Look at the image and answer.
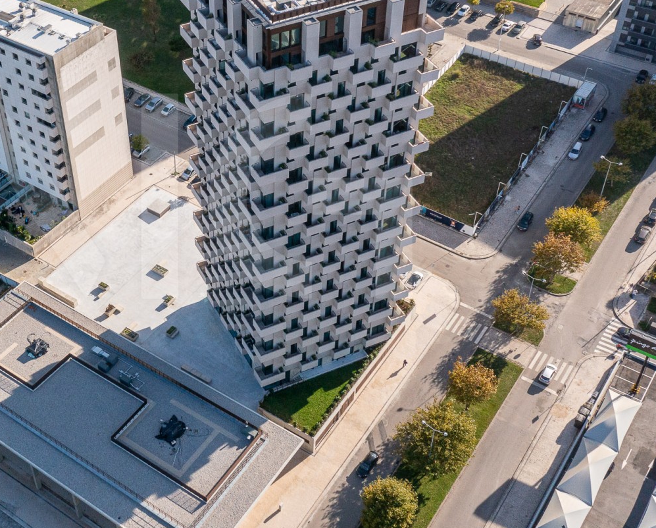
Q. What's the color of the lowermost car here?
black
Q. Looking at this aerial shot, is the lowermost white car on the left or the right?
right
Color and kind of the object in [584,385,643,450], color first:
white tent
